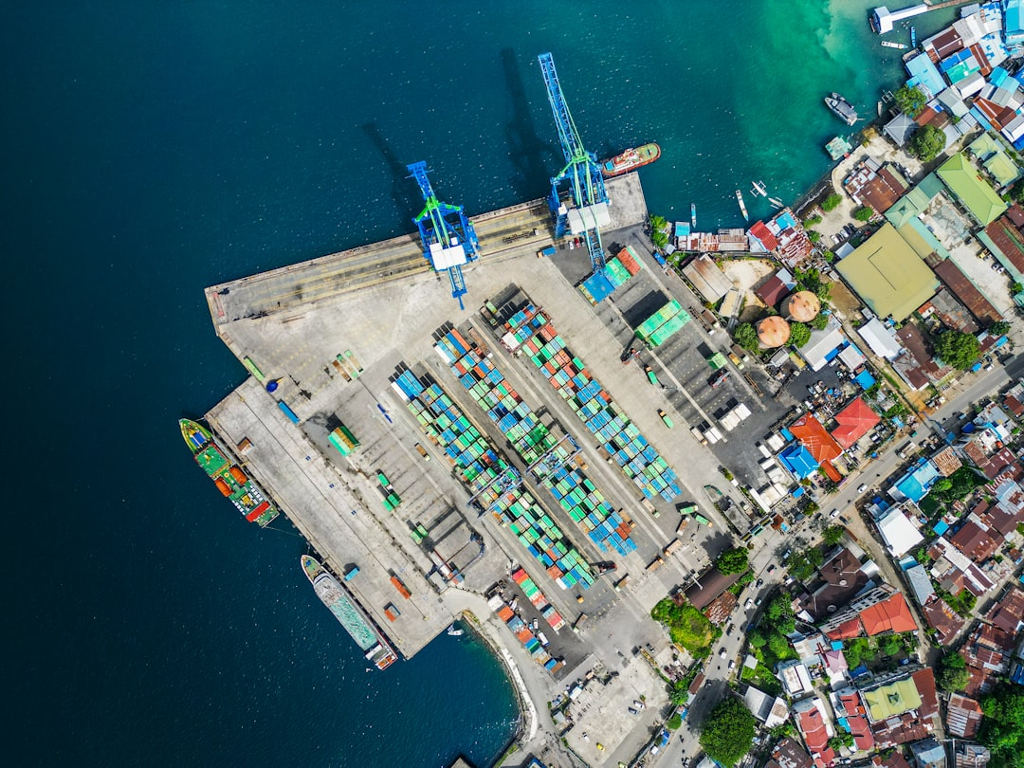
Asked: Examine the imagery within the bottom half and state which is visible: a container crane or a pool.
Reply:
container crane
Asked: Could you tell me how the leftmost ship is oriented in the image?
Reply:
on a diagonal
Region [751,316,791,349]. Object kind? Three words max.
storage tank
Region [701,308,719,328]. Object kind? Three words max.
vehicle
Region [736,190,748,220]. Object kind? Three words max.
boat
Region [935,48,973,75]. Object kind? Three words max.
house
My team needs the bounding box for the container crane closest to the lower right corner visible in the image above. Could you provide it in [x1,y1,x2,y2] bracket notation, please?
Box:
[523,430,580,486]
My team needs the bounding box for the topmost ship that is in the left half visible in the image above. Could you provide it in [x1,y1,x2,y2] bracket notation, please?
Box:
[179,420,278,527]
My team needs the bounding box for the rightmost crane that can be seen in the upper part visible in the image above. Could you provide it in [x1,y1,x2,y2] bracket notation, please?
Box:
[538,48,612,279]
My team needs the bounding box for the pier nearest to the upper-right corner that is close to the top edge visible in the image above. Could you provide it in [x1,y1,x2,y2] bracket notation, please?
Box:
[871,0,957,35]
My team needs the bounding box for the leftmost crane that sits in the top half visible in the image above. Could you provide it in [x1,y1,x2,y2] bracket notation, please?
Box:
[406,160,483,311]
